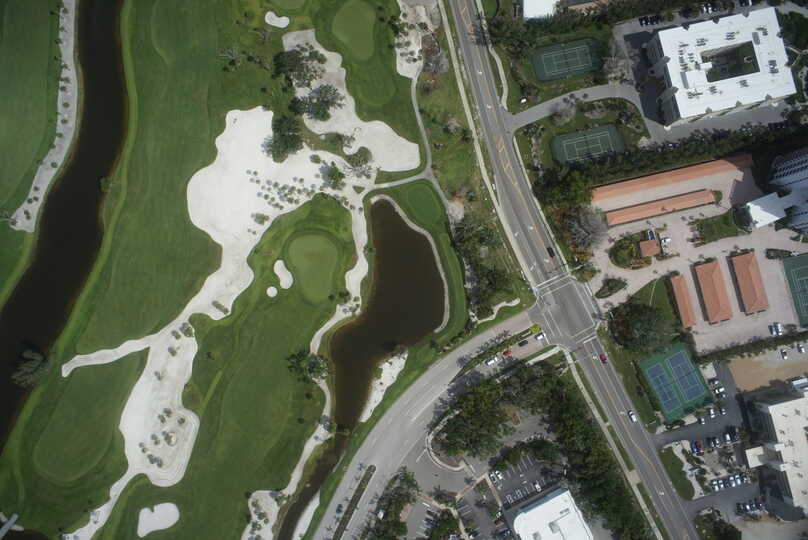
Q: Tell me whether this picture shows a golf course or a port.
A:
golf course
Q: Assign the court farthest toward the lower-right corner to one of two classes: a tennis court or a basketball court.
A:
tennis court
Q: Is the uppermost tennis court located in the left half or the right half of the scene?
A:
right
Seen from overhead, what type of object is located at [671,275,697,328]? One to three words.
building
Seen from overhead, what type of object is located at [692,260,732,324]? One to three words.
building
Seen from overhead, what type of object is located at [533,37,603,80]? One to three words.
tennis court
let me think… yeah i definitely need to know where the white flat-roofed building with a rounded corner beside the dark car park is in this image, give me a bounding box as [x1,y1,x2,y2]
[512,487,596,540]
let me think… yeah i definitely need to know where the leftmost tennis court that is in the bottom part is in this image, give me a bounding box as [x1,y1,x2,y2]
[637,342,716,425]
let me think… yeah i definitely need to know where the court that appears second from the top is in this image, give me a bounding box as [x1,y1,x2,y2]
[551,123,626,165]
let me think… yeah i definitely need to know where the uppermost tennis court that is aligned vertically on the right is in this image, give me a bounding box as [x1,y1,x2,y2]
[783,253,808,326]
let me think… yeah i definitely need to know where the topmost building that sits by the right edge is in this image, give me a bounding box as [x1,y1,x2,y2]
[645,8,796,125]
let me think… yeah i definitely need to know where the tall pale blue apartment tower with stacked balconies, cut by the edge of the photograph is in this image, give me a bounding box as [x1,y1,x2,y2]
[768,144,808,222]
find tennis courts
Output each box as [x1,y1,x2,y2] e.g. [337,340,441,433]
[533,37,603,80]
[637,342,716,425]
[551,123,626,165]
[783,253,808,326]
